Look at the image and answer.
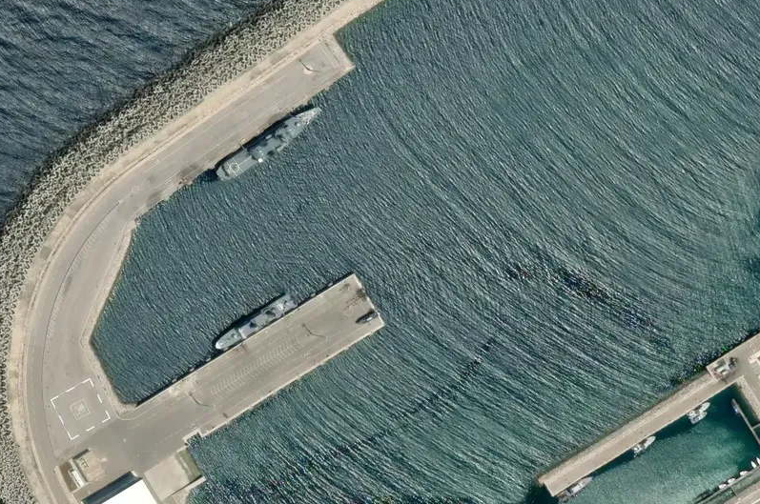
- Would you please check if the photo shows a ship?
Yes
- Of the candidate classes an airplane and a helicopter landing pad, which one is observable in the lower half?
helicopter landing pad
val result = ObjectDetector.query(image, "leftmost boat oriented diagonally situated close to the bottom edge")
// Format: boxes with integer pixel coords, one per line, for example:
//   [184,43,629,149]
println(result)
[555,478,592,503]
